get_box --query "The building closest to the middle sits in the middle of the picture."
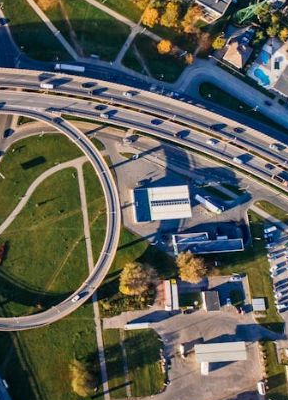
[142,183,191,220]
